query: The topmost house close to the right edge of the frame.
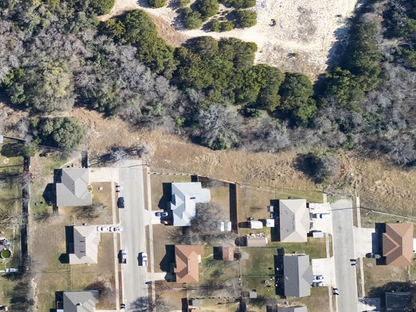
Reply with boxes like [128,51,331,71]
[380,222,416,266]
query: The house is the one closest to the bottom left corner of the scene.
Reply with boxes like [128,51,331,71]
[56,289,99,312]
